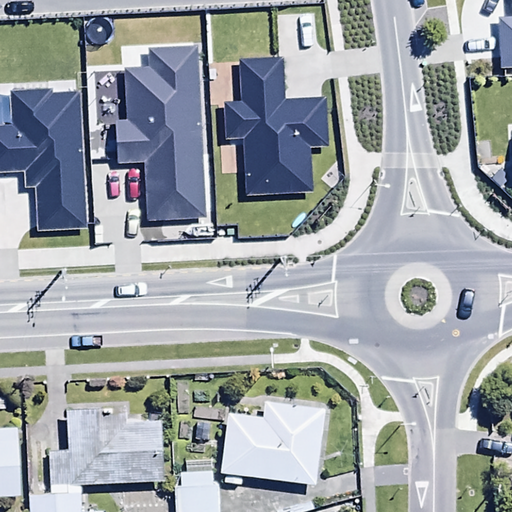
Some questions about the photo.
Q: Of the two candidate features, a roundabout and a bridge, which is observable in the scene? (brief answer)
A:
roundabout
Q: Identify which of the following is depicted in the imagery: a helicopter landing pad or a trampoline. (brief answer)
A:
trampoline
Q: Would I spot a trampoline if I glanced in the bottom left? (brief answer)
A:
No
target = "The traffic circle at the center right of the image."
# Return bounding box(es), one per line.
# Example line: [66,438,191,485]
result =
[385,262,452,329]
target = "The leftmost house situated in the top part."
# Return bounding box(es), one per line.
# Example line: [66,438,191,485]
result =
[0,88,87,232]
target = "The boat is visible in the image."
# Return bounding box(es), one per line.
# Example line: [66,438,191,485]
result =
[179,224,218,236]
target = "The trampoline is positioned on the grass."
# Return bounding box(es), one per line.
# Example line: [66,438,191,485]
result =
[86,17,113,44]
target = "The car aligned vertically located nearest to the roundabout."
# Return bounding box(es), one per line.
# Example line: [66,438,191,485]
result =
[458,287,476,320]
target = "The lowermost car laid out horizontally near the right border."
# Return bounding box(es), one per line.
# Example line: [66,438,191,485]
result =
[464,37,496,52]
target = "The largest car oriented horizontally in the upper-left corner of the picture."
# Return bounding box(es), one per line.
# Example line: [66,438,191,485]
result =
[4,0,34,15]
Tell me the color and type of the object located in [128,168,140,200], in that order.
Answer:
red vehicle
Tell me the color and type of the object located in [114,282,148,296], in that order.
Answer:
white car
